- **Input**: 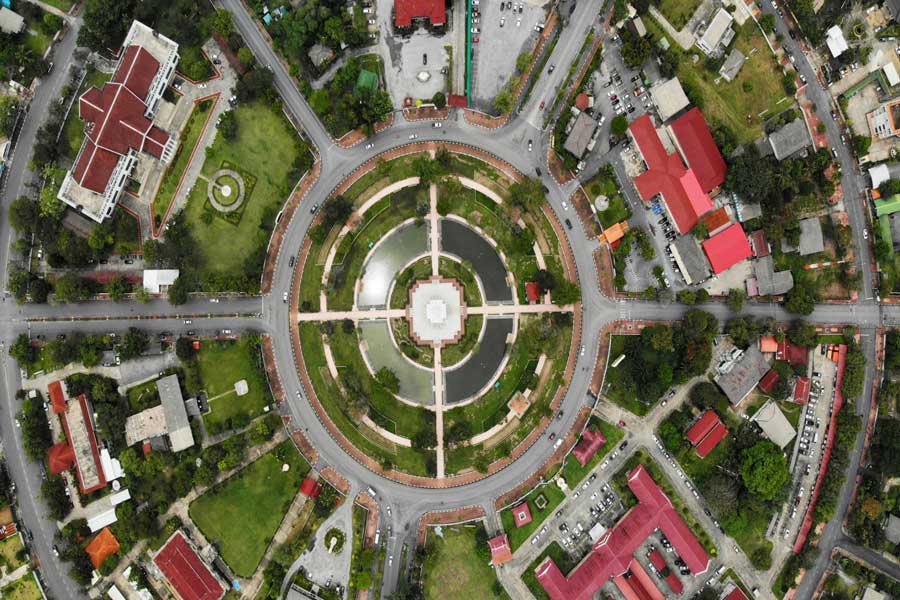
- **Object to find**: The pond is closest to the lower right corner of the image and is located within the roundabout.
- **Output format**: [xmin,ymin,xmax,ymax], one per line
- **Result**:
[446,320,515,408]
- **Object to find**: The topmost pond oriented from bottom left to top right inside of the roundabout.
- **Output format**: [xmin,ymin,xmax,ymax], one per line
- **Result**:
[358,220,428,306]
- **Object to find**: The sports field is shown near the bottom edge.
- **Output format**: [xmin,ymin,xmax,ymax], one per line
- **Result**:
[189,441,308,578]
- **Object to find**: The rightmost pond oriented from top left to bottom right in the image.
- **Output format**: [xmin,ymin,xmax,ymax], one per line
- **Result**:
[443,220,515,304]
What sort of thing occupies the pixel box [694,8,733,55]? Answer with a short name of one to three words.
house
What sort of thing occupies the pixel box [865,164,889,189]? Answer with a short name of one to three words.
shed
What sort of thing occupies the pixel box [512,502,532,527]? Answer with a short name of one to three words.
building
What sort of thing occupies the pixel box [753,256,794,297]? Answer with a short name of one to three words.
house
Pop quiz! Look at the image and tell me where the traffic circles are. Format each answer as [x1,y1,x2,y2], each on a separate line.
[268,114,605,514]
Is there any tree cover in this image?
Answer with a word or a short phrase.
Yes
